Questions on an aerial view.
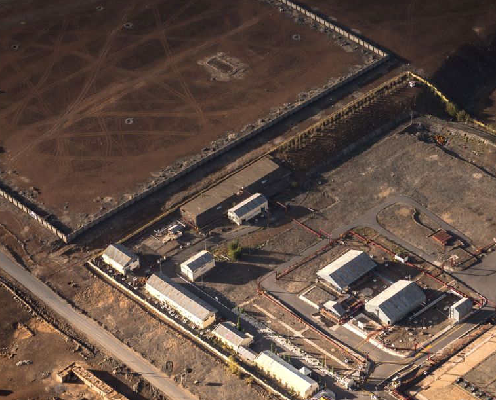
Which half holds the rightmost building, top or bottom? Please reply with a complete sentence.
You can find the rightmost building in the bottom half.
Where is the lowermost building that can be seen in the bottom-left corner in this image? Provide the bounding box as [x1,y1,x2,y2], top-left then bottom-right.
[44,358,130,400]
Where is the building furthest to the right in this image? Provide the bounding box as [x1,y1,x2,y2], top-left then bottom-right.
[451,299,477,320]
